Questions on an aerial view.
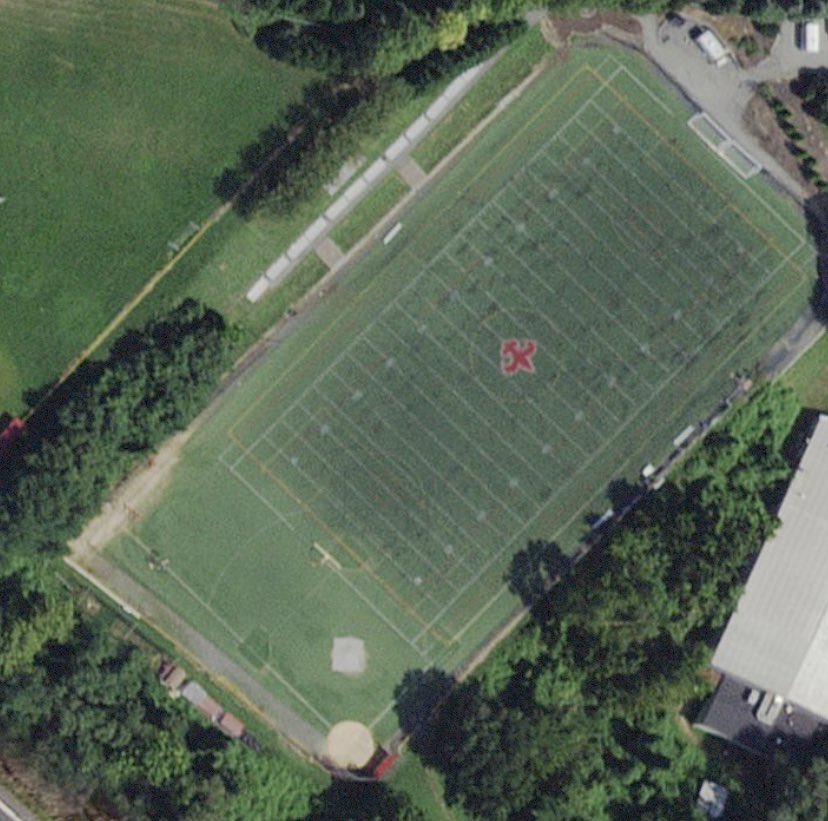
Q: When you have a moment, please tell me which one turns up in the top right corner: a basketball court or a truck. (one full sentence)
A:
What appears in the top right corner is a truck.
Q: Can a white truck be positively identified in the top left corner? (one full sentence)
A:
No, no white truck is visible in the top left corner.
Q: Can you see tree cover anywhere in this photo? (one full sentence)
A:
Yes, tree cover can be seen from above here.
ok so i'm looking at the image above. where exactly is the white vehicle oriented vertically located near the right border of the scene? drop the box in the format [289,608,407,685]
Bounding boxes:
[806,22,821,53]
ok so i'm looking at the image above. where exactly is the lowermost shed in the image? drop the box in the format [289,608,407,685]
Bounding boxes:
[697,781,729,818]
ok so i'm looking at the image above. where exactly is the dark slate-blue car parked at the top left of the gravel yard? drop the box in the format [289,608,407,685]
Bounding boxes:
[664,9,687,28]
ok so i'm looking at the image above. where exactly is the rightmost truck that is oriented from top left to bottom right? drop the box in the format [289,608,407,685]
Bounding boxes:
[698,30,730,68]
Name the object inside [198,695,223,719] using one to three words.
shed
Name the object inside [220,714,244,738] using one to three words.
shed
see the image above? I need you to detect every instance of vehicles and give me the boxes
[664,9,687,28]
[806,22,821,53]
[698,30,730,68]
